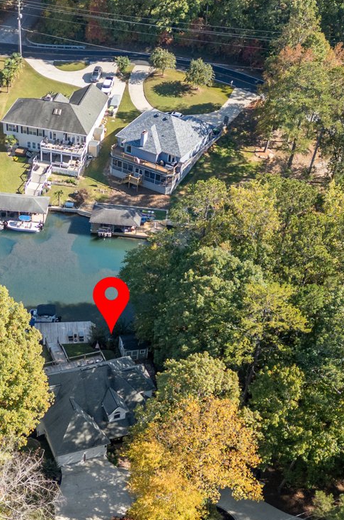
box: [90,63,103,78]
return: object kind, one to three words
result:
vehicle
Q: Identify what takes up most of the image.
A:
trees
